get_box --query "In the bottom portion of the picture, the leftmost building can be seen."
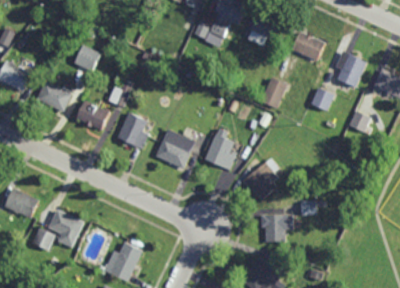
[4,189,40,218]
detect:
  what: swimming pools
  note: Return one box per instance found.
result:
[82,227,110,265]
